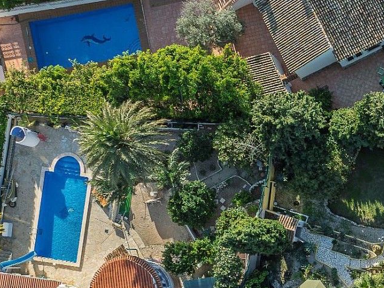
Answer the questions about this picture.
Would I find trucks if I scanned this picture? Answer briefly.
No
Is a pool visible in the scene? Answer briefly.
Yes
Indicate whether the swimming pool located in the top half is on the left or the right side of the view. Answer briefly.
left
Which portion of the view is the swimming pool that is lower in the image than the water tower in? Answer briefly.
bottom left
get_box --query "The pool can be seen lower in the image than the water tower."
[25,151,93,268]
